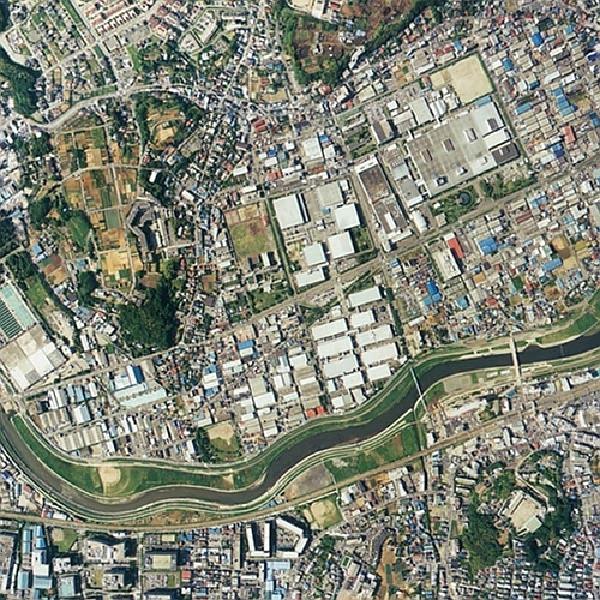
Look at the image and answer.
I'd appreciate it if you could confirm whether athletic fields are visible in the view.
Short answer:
Yes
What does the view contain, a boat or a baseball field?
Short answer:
baseball field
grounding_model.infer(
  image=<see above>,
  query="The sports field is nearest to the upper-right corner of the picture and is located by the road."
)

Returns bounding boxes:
[448,53,492,107]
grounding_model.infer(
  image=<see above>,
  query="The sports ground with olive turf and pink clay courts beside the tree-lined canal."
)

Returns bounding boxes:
[224,203,278,272]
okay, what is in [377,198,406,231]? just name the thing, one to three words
building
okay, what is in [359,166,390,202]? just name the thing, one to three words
building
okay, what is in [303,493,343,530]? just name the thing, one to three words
sports field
